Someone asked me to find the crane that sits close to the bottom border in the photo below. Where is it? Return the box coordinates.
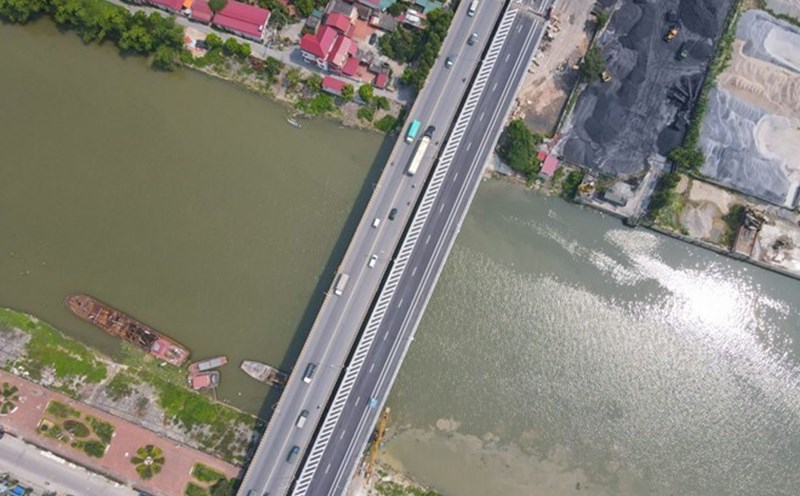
[362,407,391,480]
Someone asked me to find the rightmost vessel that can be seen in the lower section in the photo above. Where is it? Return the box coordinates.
[241,361,290,384]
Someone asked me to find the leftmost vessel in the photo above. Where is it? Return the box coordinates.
[65,300,191,367]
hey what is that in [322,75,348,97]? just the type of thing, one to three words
house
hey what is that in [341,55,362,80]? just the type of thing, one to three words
house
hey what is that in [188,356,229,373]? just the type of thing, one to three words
boat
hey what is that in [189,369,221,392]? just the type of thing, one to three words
boat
